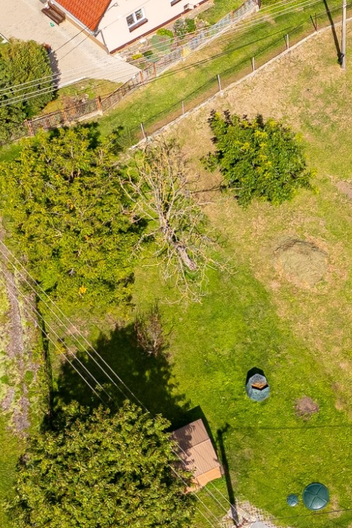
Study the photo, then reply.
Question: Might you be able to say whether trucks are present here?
No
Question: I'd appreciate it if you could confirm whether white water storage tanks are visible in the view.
No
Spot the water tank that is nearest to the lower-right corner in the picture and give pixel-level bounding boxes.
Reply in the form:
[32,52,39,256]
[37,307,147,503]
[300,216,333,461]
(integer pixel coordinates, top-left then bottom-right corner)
[302,481,328,512]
